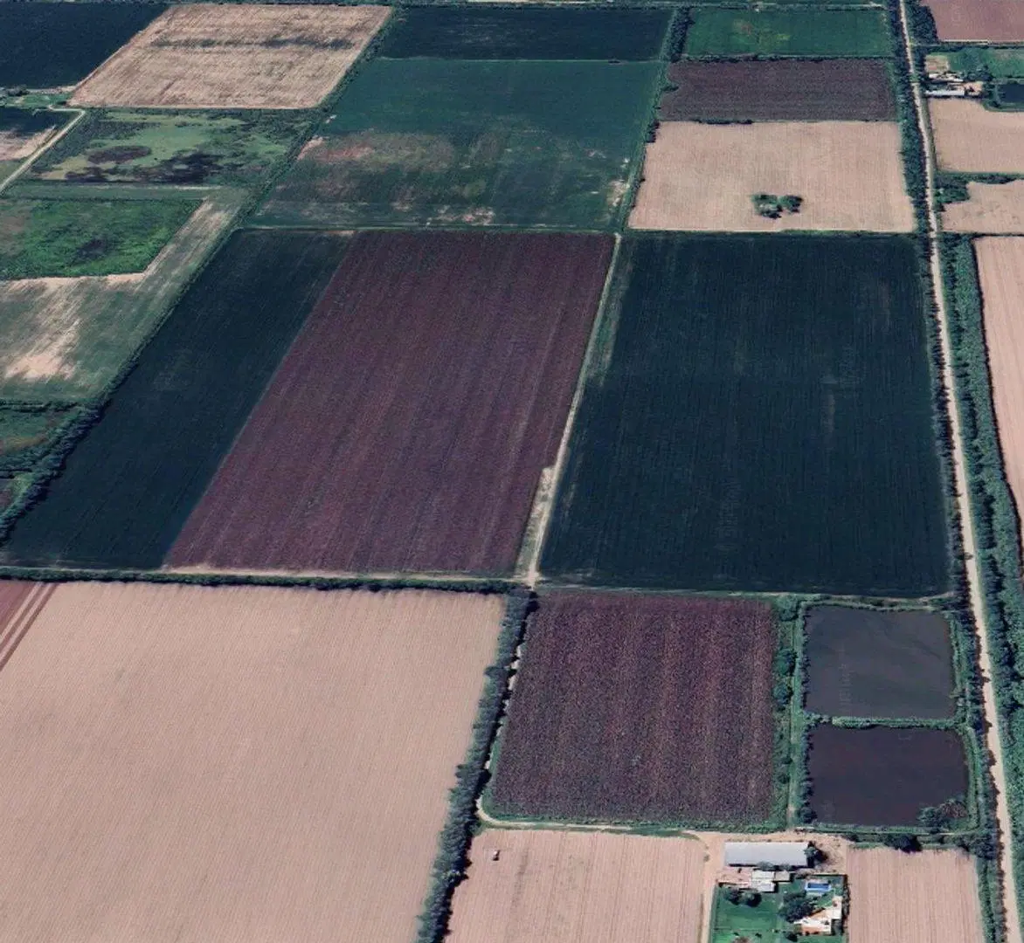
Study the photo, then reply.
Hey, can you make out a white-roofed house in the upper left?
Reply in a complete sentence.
No, no white-roofed house appears in the upper left.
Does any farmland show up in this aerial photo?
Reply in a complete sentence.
Yes, the picture does contain farmland.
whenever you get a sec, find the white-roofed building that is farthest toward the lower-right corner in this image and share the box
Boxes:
[795,897,844,941]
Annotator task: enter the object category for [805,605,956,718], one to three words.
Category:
pond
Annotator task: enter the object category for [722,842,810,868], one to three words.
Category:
shed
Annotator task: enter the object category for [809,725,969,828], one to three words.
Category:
pond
